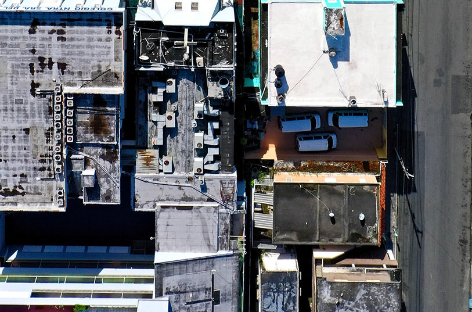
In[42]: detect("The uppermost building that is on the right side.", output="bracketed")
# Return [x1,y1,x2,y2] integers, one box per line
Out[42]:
[256,0,403,107]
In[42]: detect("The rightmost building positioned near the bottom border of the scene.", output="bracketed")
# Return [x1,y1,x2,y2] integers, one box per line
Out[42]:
[311,235,401,312]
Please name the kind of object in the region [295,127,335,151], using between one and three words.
vehicle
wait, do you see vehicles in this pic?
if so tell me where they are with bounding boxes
[279,109,319,132]
[327,107,368,128]
[295,127,335,151]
